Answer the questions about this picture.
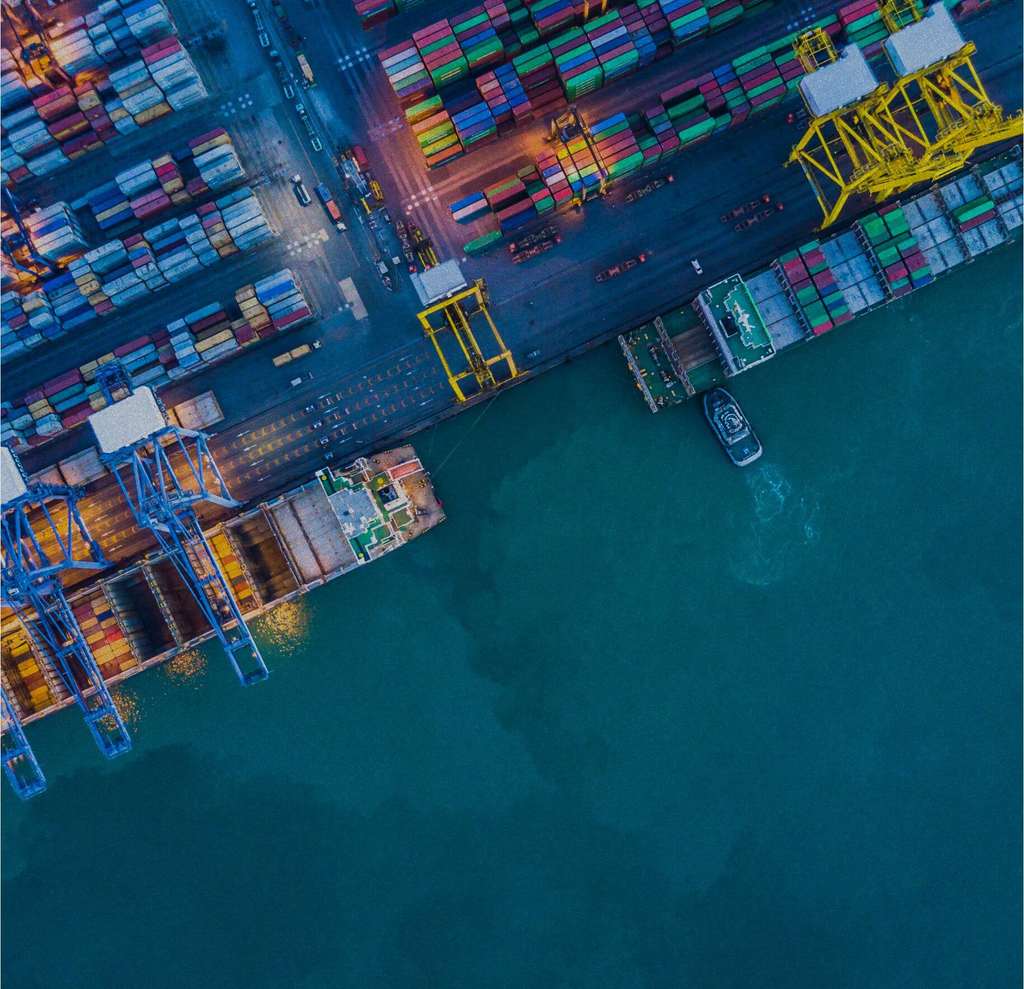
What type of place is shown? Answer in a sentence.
The area seen from above is a port.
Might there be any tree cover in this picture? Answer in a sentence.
No, the scene doesn't show any tree cover.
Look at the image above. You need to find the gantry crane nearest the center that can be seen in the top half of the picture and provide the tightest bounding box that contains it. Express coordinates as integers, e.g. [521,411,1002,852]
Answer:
[406,231,527,407]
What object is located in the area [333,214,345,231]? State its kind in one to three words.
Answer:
vehicle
